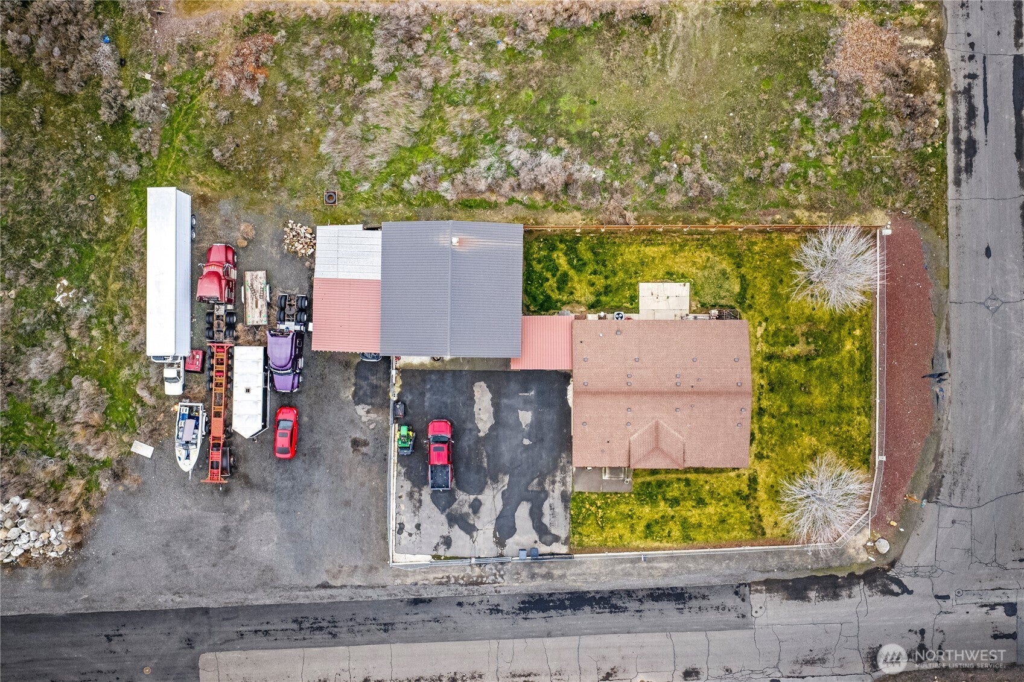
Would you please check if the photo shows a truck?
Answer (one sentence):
Yes, I can see a truck in this picture.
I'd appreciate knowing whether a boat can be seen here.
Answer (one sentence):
Yes, looking at the shot, I can spot a boat.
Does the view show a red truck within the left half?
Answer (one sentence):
Yes, a red truck appears within the left half.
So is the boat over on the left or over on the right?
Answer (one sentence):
The boat appears in the left half of the scene.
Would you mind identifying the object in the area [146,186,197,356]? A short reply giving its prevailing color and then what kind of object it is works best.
white trailer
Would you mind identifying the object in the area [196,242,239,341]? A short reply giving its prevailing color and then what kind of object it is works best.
red truck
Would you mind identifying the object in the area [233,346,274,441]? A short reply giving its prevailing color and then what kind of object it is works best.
white trailer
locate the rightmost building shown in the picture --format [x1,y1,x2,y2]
[571,319,753,470]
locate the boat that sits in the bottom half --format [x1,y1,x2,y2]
[175,396,203,472]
